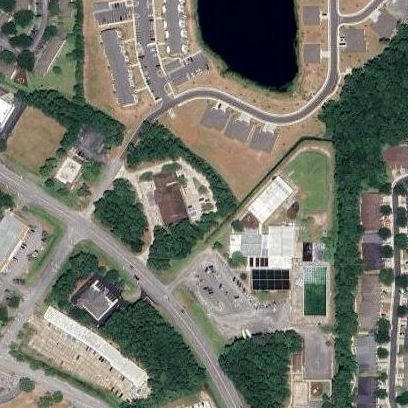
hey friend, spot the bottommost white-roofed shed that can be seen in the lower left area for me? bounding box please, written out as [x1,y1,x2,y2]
[44,306,147,388]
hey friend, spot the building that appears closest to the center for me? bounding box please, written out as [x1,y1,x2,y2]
[151,172,187,224]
